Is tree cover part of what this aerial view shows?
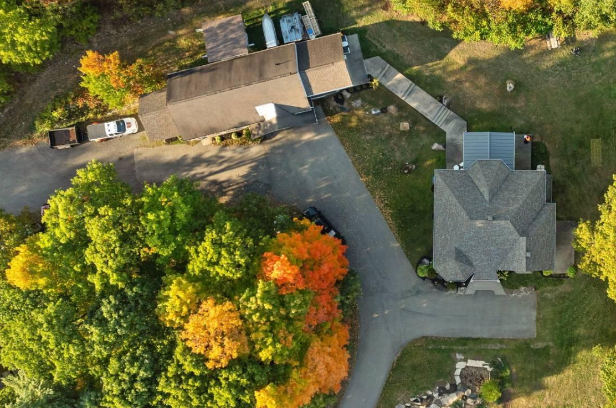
Yes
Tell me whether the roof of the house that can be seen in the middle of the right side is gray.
Yes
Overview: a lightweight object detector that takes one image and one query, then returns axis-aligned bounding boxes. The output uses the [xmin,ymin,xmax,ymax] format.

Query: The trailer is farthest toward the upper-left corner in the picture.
[47,124,88,148]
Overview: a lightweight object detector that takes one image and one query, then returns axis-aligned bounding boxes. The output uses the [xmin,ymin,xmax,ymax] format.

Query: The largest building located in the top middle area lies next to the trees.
[138,32,353,141]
